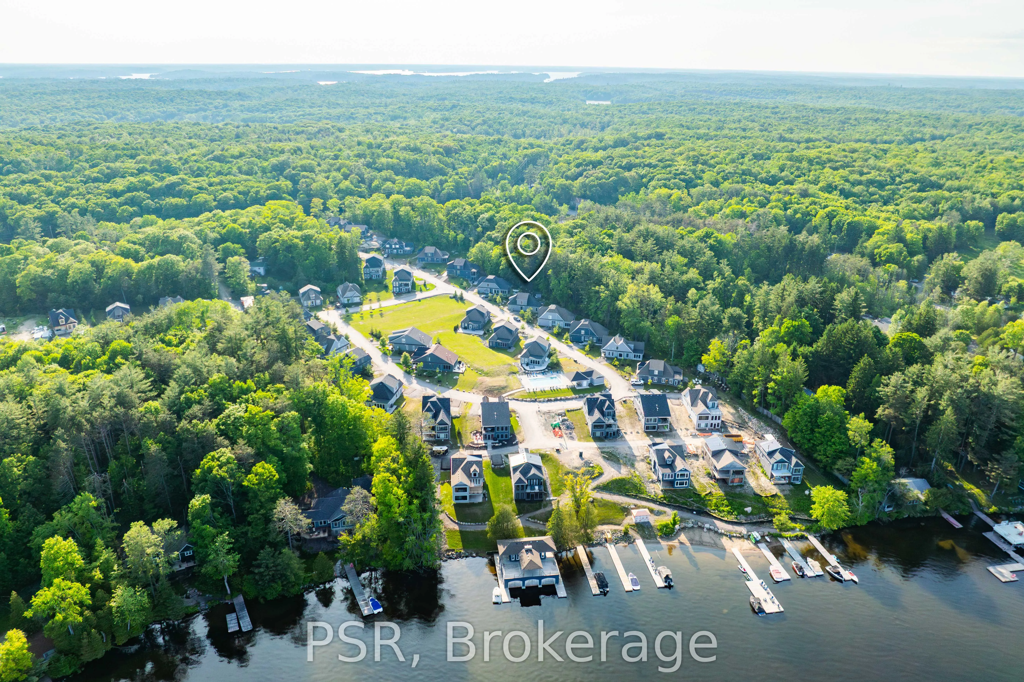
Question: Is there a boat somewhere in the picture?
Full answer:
Yes, the image includes a boat.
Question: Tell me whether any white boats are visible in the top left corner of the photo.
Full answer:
No, I see no white boat in the top left corner of the photo.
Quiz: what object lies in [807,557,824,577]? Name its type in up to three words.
boat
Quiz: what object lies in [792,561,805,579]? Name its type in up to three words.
boat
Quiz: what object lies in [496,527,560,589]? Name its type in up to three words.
building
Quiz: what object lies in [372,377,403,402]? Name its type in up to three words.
house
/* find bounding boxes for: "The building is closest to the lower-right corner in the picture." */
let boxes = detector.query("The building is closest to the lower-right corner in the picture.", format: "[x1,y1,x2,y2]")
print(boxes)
[992,519,1024,552]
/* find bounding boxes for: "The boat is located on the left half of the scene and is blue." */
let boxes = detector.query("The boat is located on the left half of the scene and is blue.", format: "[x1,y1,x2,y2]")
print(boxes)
[369,597,382,615]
